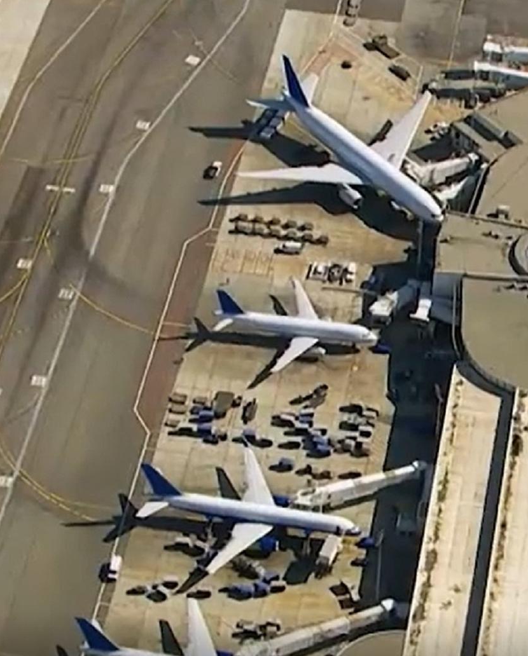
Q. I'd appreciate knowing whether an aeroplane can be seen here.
Yes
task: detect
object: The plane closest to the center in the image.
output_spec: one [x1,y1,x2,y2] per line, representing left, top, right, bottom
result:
[201,277,377,370]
